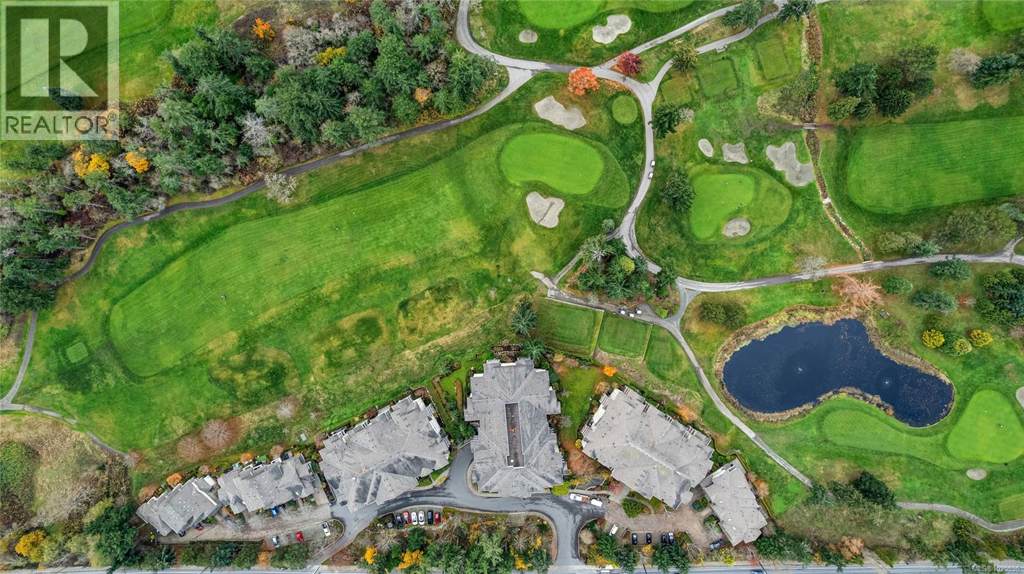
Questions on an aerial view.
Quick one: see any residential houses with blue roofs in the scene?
No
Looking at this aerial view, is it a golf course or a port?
golf course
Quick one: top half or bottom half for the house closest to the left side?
bottom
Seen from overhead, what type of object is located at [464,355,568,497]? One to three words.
building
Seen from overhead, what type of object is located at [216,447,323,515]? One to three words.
house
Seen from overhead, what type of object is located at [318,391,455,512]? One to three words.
building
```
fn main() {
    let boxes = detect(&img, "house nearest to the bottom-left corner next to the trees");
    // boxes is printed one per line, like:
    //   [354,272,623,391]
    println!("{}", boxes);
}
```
[136,471,224,542]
